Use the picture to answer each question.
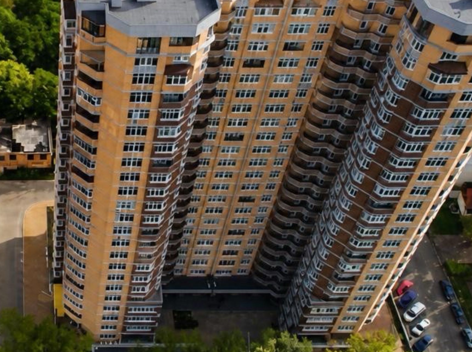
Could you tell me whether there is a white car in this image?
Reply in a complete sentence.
Yes, this view includes a white car.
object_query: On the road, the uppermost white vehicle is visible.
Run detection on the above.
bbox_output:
[405,303,426,322]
